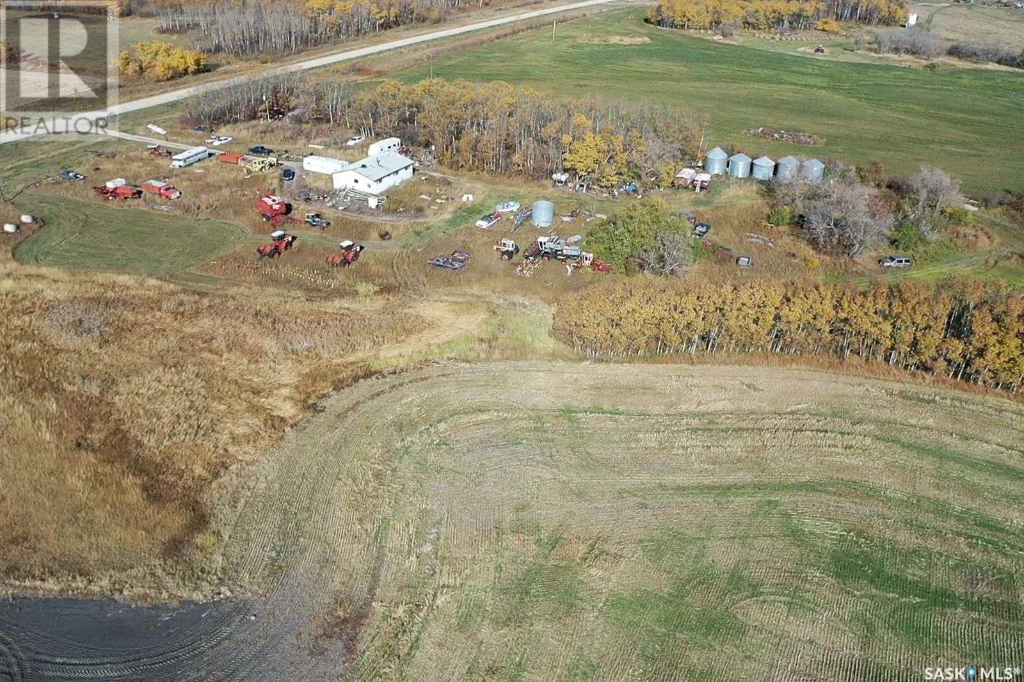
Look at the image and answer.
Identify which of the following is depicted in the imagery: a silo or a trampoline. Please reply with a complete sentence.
I can see a silo in this picture.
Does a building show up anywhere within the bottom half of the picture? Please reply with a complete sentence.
No, I can find no building within the bottom half of the picture.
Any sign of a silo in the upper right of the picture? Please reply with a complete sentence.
Yes, there is a silo in the upper right of the picture.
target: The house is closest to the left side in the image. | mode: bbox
[327,150,416,197]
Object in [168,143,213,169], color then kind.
white bus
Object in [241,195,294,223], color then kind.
red work vehicle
